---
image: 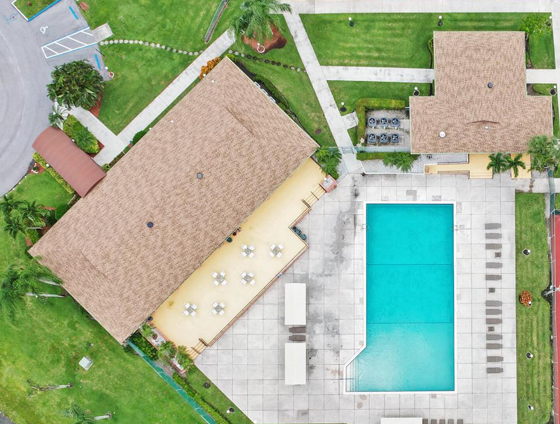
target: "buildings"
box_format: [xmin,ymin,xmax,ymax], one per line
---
[410,31,553,154]
[31,57,319,344]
